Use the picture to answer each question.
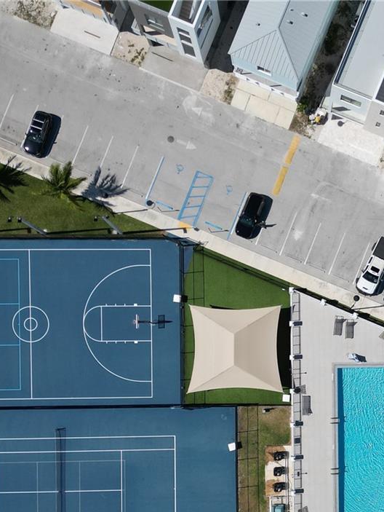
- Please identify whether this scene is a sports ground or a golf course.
sports ground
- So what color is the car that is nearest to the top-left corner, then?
black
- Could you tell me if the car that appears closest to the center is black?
Yes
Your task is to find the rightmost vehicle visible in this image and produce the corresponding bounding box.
[358,236,384,296]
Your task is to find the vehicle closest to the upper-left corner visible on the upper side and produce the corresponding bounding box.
[24,109,52,158]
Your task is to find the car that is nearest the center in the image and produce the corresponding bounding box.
[235,191,268,241]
